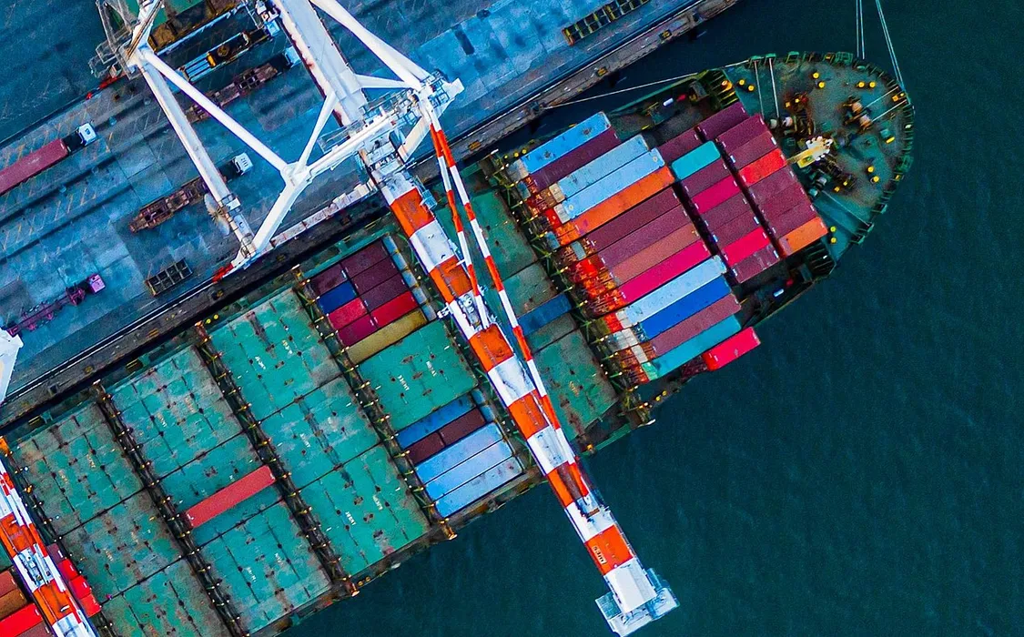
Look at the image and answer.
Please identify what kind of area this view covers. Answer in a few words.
port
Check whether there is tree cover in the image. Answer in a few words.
No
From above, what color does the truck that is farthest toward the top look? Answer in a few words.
blue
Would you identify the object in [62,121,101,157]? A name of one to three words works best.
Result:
truck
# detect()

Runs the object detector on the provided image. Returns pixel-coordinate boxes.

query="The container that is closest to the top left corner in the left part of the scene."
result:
[0,139,71,197]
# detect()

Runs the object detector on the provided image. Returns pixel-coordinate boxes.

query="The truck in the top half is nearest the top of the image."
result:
[178,17,284,81]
